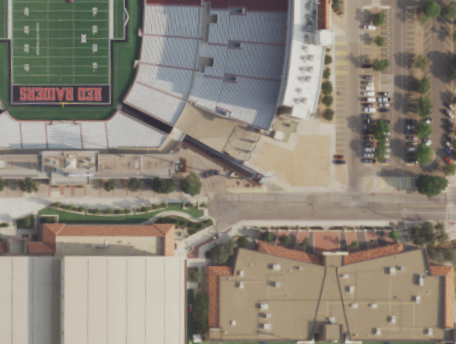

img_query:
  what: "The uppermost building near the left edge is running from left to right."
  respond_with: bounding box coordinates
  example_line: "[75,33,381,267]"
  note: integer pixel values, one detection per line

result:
[0,151,172,185]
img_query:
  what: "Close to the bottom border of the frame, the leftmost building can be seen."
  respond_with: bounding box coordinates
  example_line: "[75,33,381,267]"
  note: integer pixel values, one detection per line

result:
[0,254,186,344]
